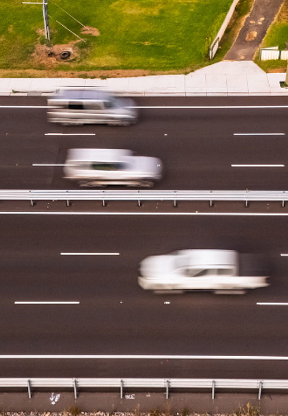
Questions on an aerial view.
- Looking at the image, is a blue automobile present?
No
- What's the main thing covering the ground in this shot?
paved ground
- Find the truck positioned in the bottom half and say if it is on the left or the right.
right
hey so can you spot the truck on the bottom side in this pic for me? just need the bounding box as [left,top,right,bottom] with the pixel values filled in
[144,243,265,292]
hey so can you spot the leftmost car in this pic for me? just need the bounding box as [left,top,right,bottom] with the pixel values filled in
[65,142,158,185]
